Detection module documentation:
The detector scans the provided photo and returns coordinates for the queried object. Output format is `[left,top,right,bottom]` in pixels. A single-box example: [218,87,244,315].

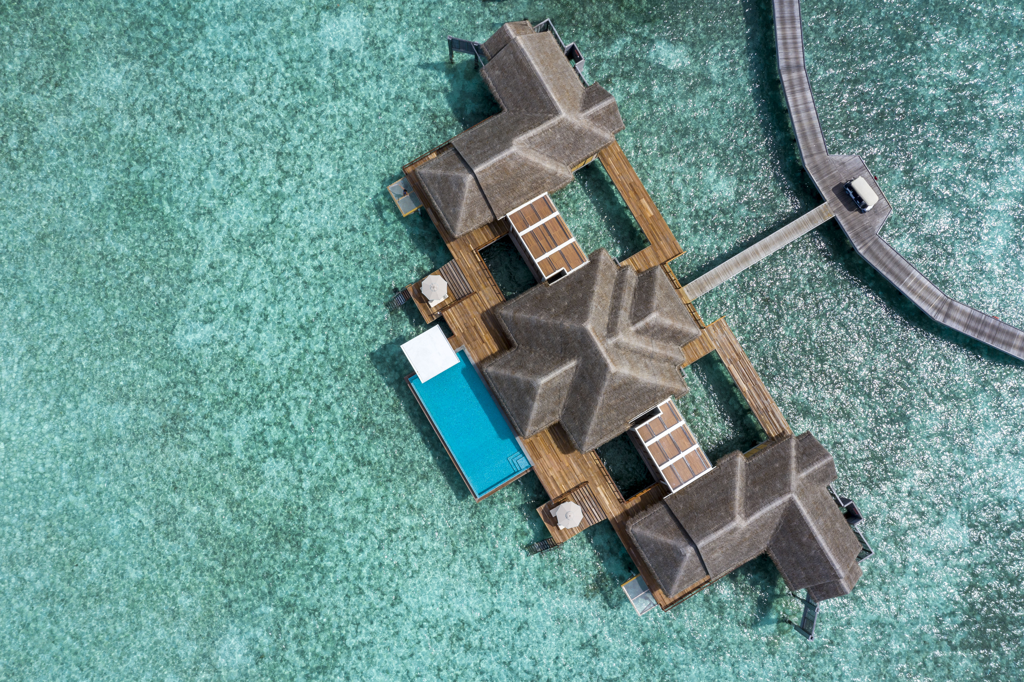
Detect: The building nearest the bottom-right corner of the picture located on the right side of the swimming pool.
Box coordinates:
[628,431,864,603]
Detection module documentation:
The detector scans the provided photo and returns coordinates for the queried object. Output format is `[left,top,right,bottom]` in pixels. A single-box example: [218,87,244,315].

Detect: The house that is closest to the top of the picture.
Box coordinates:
[416,19,625,239]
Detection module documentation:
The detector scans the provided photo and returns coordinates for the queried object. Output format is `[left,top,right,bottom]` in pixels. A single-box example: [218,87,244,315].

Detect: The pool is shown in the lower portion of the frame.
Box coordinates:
[404,342,535,503]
